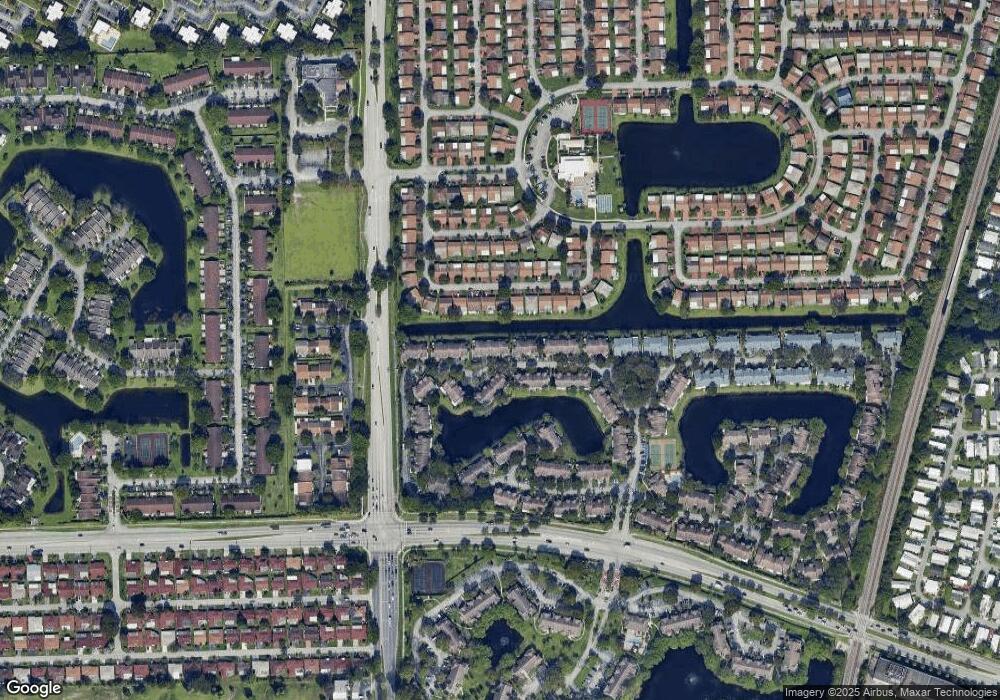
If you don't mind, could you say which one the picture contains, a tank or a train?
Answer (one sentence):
Of the two, only a train appears.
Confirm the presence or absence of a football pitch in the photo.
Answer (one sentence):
No, there's no football pitch here.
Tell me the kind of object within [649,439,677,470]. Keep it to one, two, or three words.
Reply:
tennis court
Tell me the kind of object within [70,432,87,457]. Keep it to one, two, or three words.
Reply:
swimming pool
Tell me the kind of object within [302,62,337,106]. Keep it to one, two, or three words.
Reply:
building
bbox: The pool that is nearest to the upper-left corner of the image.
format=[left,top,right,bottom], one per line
[91,27,120,51]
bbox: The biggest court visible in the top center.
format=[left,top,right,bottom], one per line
[580,99,612,135]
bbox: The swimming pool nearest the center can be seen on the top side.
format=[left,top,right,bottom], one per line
[571,165,598,208]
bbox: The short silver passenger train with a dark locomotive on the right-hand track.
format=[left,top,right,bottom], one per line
[944,226,972,315]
